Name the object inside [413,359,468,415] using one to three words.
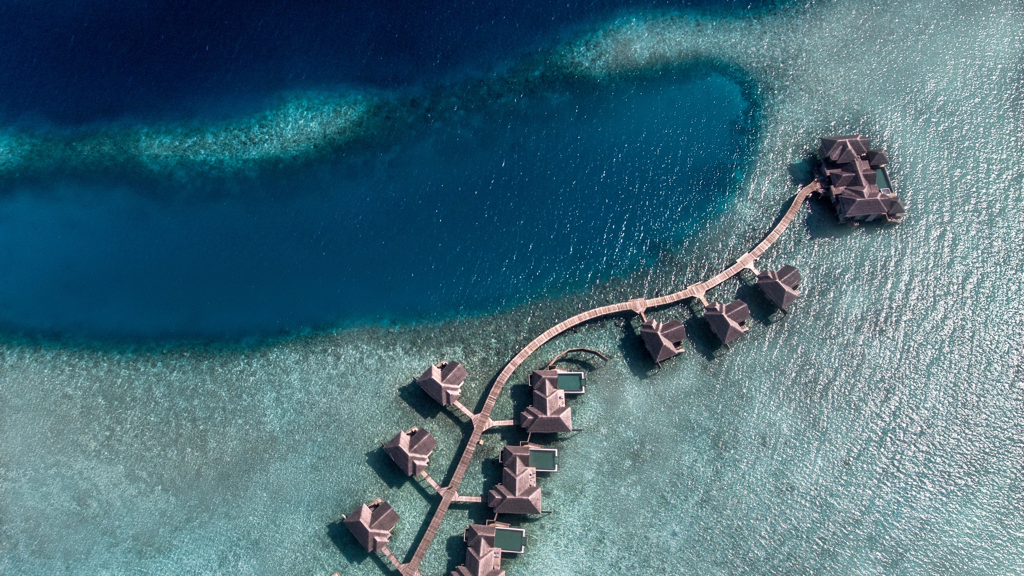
house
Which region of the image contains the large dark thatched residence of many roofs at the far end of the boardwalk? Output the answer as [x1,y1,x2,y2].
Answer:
[811,134,906,226]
